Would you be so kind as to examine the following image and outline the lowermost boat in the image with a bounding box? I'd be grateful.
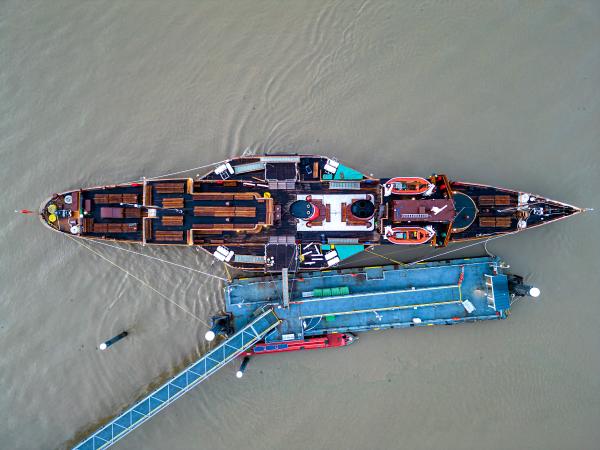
[238,333,360,356]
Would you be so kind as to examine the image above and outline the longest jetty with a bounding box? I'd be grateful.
[212,255,526,344]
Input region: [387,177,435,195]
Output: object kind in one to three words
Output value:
boat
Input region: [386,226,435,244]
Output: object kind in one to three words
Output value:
boat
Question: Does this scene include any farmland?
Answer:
No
